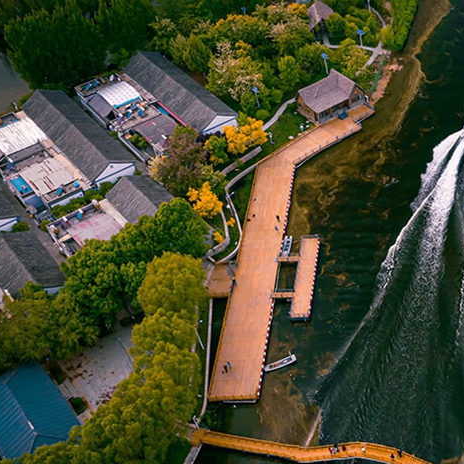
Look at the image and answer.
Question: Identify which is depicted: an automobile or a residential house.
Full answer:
Looking from above, you can make out a residential house.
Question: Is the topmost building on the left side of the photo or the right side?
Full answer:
The topmost building sits on the right side.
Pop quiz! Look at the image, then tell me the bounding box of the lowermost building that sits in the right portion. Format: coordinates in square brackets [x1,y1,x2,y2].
[290,70,368,128]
